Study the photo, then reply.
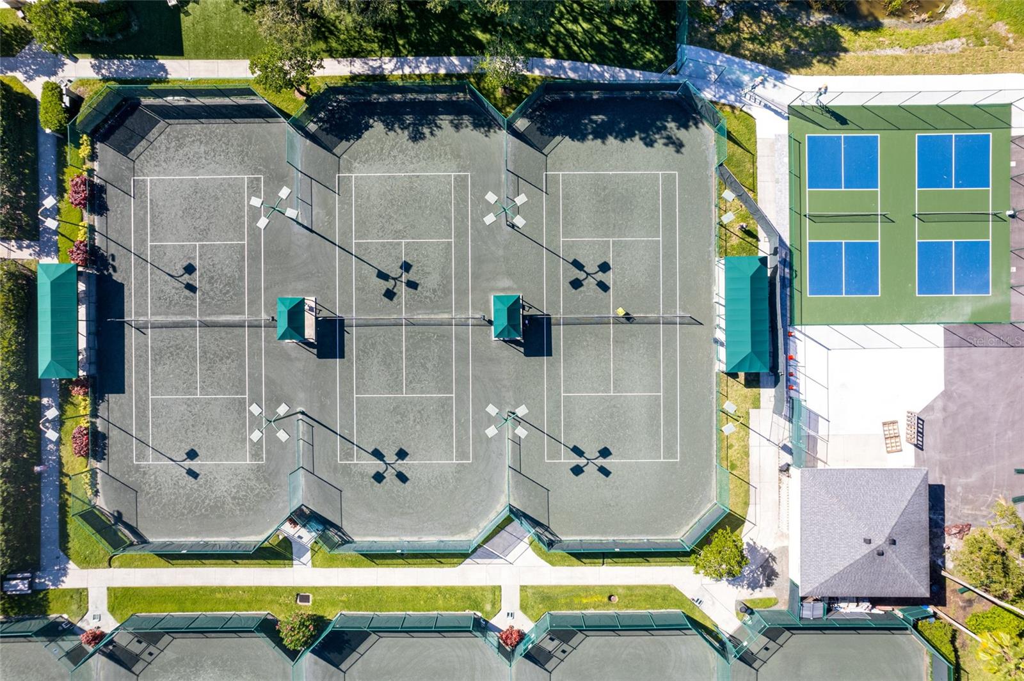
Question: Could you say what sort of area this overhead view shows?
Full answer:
The area seen from above is a sports ground.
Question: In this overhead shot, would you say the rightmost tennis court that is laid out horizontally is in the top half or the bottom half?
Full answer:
The bottom half of the photo is where the rightmost tennis court that is laid out horizontally is.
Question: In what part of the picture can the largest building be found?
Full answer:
The largest building is located in the bottom right region of the scene.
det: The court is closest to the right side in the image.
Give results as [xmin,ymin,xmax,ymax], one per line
[898,104,1011,324]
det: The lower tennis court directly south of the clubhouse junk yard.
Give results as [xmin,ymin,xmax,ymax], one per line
[718,611,926,681]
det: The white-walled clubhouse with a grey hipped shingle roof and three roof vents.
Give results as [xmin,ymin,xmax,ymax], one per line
[791,466,930,598]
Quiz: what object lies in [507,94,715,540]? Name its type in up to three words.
tennis court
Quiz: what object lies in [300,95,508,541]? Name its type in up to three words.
tennis court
